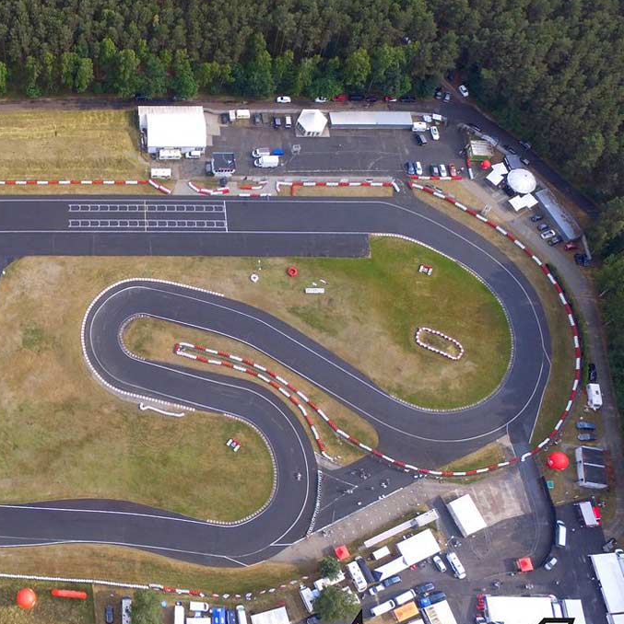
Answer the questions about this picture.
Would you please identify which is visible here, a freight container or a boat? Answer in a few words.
freight container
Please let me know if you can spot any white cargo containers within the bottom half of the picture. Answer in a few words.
Yes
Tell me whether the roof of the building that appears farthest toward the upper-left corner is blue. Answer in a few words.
No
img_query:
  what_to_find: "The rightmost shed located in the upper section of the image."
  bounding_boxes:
[532,188,582,244]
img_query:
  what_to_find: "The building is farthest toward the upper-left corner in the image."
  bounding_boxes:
[137,106,207,152]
